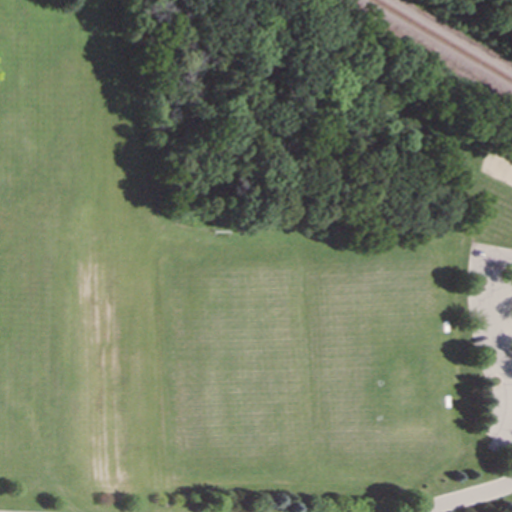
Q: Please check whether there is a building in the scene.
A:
No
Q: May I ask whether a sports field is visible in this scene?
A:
Yes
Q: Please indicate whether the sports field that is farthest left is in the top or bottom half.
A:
bottom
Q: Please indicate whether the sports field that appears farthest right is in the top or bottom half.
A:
bottom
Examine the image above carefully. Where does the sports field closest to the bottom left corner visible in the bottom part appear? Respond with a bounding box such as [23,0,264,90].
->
[168,250,299,464]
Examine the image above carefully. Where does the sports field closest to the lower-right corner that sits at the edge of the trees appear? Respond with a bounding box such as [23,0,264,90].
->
[317,250,446,464]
